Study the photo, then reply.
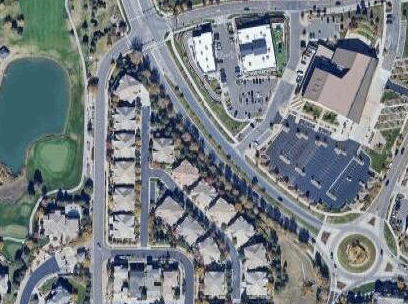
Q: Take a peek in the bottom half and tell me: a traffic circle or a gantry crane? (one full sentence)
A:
The one visible in the bottom half is a traffic circle.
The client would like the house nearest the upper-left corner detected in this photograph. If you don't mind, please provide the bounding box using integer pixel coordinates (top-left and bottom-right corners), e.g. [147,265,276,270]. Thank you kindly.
[111,73,143,104]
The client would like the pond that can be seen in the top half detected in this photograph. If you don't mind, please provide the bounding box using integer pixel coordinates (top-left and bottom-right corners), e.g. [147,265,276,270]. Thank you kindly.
[0,58,68,178]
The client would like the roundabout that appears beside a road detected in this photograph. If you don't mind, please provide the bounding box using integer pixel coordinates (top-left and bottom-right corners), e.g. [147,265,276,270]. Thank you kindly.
[318,211,397,293]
